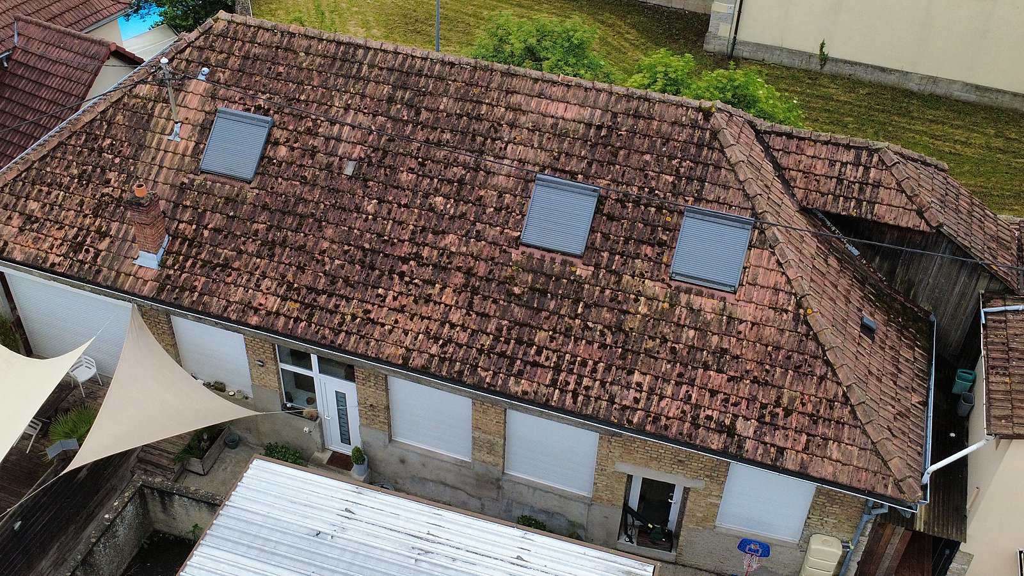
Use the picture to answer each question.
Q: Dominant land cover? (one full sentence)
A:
What you mostly see from above here is buildings.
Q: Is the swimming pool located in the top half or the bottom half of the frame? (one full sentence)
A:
It is in the top half that the swimming pool appears.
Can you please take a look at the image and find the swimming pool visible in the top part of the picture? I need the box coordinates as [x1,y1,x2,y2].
[110,0,203,43]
